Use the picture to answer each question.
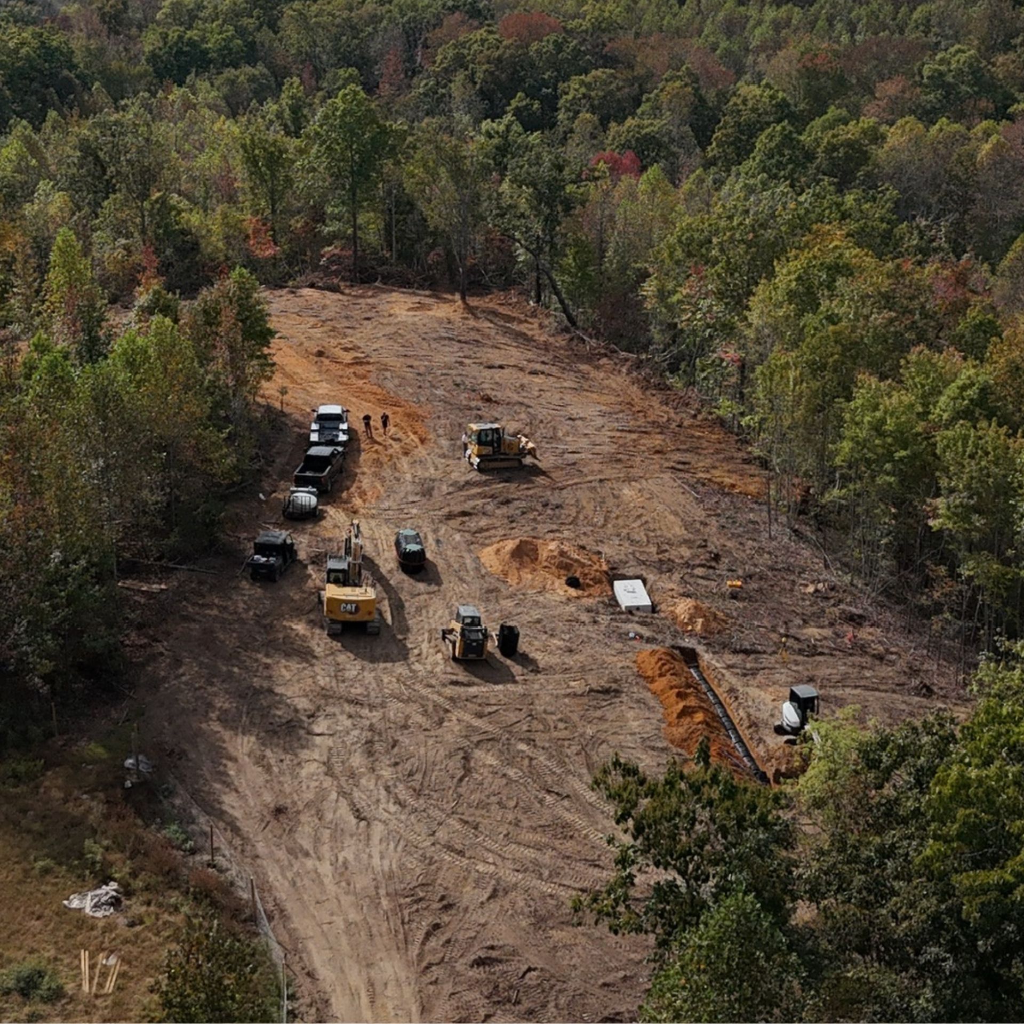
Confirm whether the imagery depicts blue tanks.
No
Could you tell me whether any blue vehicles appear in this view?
No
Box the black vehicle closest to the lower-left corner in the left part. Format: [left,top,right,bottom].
[248,526,298,579]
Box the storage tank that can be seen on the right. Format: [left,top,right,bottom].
[613,578,653,613]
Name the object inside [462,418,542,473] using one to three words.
work vehicle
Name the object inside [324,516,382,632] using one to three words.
work vehicle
